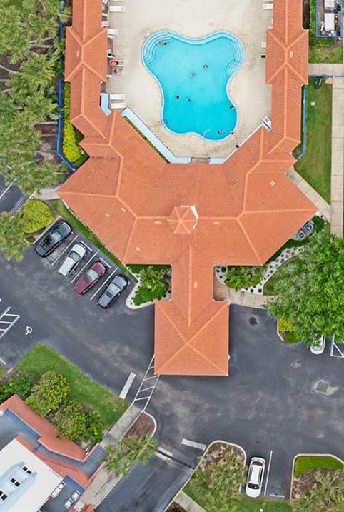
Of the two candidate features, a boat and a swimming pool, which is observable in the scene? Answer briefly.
swimming pool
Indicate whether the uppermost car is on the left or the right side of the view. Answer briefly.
left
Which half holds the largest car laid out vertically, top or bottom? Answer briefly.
bottom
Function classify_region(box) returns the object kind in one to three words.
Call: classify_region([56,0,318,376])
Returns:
building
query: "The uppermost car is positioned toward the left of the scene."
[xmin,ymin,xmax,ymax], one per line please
[36,222,74,255]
